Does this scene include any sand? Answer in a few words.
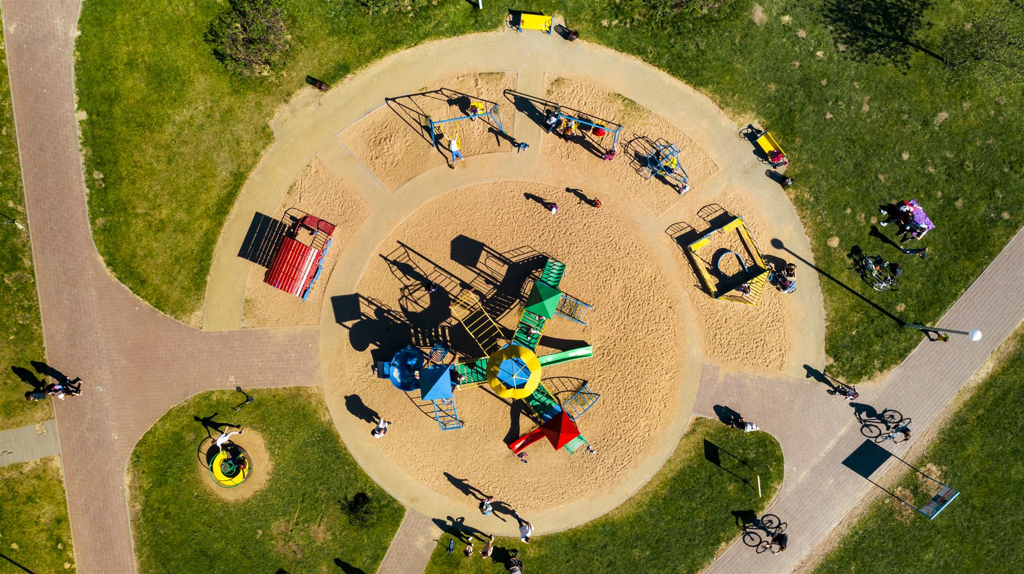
Yes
